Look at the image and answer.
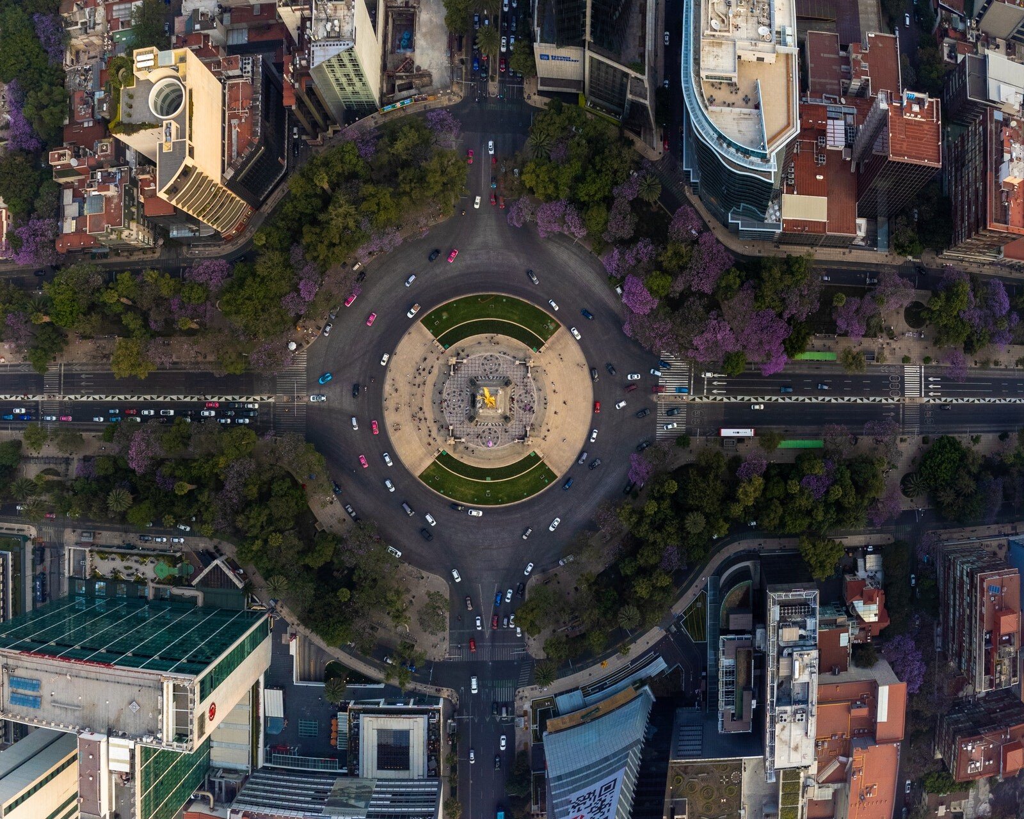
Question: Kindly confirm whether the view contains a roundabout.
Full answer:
Yes, the image includes a roundabout.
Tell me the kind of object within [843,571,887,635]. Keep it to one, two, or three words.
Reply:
house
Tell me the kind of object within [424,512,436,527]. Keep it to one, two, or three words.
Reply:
vehicle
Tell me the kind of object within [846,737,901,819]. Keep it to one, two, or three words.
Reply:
building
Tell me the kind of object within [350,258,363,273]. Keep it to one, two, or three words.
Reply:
vehicle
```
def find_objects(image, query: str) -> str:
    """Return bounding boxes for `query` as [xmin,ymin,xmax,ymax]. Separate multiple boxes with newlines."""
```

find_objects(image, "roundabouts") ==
[299,210,677,589]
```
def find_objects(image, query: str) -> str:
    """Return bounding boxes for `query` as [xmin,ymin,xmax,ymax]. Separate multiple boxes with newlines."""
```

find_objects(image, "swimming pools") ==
[269,717,284,736]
